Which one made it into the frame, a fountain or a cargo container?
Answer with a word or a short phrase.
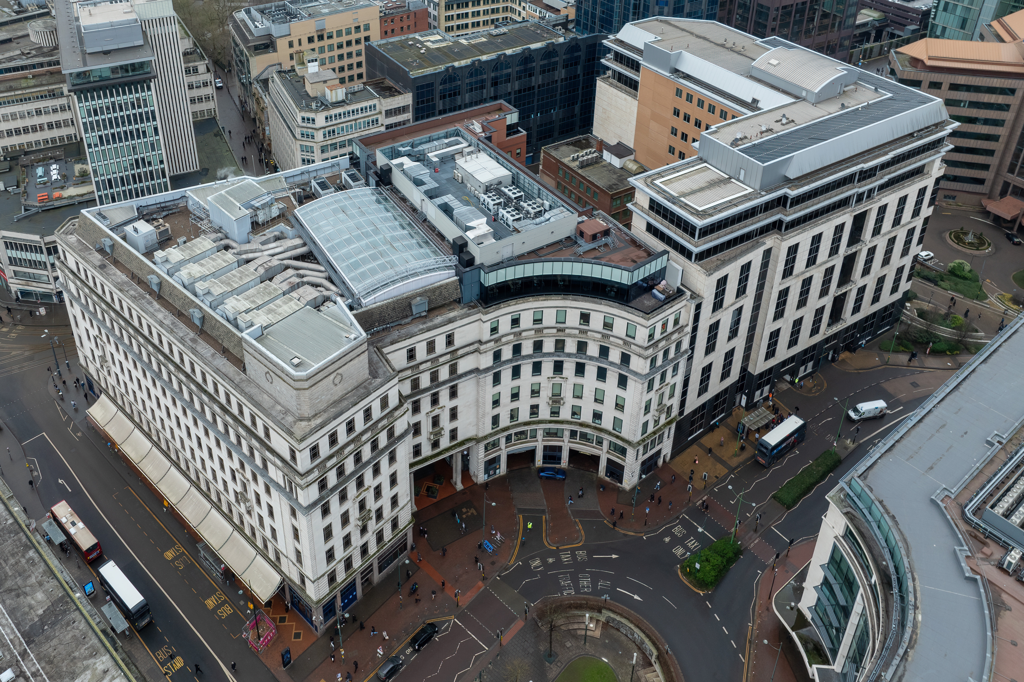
fountain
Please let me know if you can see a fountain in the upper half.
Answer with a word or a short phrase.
Yes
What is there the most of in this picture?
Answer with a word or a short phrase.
buildings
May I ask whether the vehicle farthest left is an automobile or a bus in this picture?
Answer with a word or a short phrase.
bus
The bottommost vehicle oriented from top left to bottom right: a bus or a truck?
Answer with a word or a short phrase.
bus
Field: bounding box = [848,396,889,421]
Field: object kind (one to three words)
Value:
vehicle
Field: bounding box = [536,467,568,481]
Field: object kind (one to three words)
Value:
car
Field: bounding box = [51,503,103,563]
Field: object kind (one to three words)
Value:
bus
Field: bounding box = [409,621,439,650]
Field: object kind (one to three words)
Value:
car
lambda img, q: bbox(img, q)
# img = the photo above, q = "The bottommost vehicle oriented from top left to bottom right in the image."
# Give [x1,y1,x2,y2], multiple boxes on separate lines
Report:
[96,561,155,635]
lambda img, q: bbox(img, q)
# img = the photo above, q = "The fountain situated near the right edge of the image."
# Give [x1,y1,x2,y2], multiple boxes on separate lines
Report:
[945,225,996,252]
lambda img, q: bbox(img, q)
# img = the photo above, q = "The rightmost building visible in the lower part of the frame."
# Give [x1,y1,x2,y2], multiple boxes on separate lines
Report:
[771,312,1024,682]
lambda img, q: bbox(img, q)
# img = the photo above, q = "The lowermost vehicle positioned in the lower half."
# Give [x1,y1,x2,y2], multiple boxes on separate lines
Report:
[374,653,403,682]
